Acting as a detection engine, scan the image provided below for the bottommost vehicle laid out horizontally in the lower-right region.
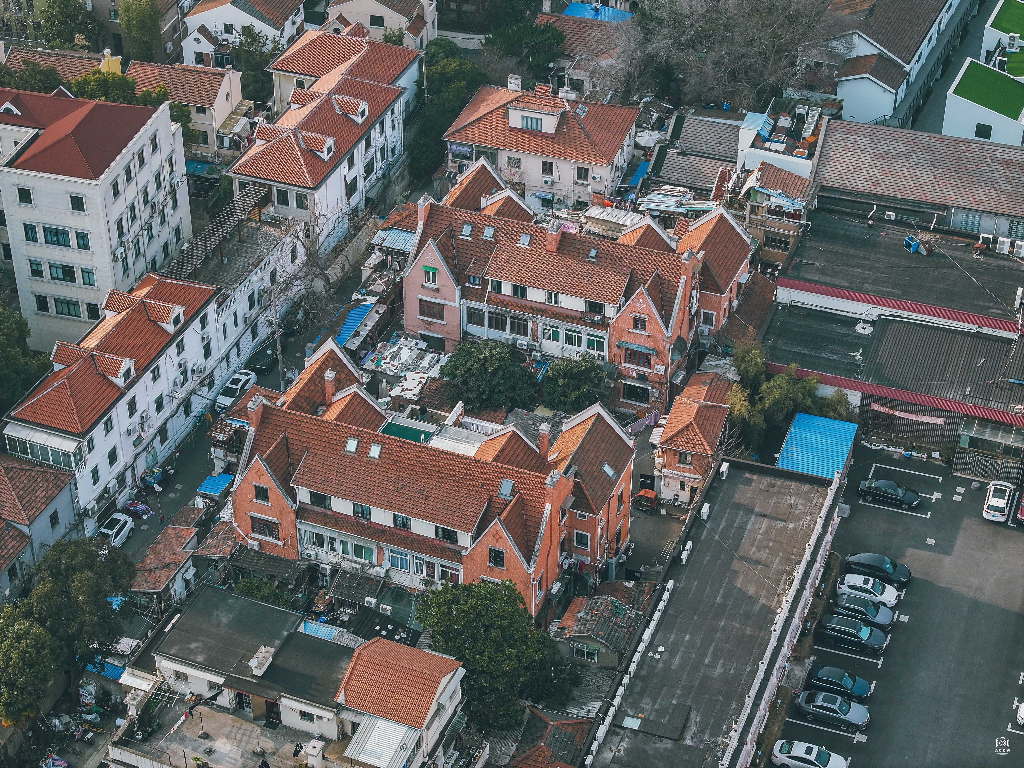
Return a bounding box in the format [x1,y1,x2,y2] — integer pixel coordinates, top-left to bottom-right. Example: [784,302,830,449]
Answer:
[769,734,849,768]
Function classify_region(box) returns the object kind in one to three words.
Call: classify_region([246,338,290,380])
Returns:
car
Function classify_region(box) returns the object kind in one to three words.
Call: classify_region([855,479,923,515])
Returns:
car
